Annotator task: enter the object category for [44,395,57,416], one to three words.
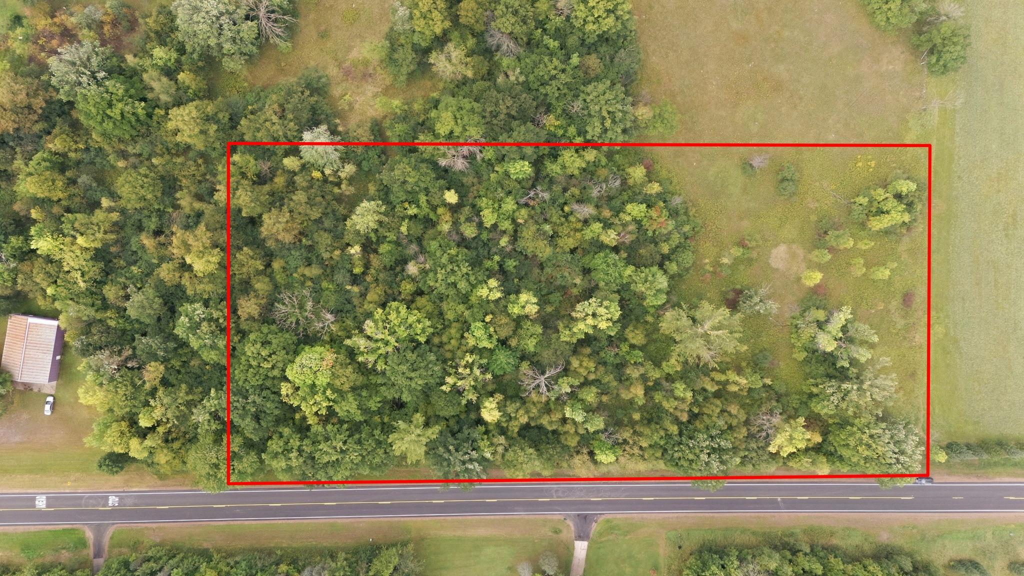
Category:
vehicle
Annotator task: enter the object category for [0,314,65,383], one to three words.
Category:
shed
